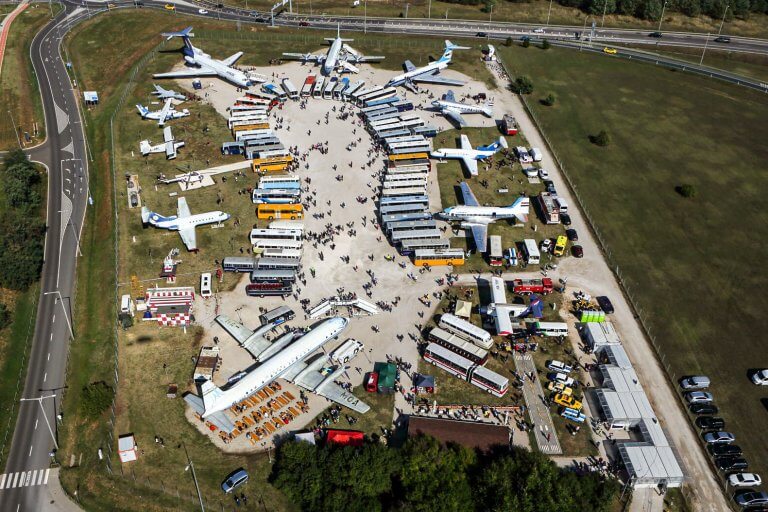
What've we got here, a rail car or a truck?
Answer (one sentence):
I can see a truck in this picture.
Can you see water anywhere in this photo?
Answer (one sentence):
No, the picture contains no water.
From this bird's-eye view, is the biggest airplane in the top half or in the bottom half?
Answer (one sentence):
The biggest airplane is in the bottom half of the image.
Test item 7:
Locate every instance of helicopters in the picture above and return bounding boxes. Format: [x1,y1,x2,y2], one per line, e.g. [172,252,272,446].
[157,164,214,187]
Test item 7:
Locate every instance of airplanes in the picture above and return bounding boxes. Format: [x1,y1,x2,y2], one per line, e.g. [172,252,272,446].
[139,97,189,124]
[440,182,532,251]
[152,27,248,88]
[141,196,230,251]
[380,47,470,91]
[431,88,494,123]
[478,275,546,334]
[148,87,188,103]
[434,134,510,175]
[283,24,385,79]
[186,310,371,430]
[136,125,187,157]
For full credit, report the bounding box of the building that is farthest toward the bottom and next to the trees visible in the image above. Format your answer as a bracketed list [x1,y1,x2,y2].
[611,445,684,489]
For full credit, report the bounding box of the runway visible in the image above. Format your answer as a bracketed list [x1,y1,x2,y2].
[513,352,562,454]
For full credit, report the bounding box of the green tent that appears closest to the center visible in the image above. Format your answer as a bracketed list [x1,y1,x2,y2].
[376,361,400,394]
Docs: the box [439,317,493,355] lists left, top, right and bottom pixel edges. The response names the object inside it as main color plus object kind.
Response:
white bus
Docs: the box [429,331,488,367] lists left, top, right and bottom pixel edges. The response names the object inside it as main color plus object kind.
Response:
white bus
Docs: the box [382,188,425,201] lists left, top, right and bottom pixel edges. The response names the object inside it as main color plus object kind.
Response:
white vehicle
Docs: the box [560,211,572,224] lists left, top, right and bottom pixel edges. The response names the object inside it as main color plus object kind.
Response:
black vehicle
